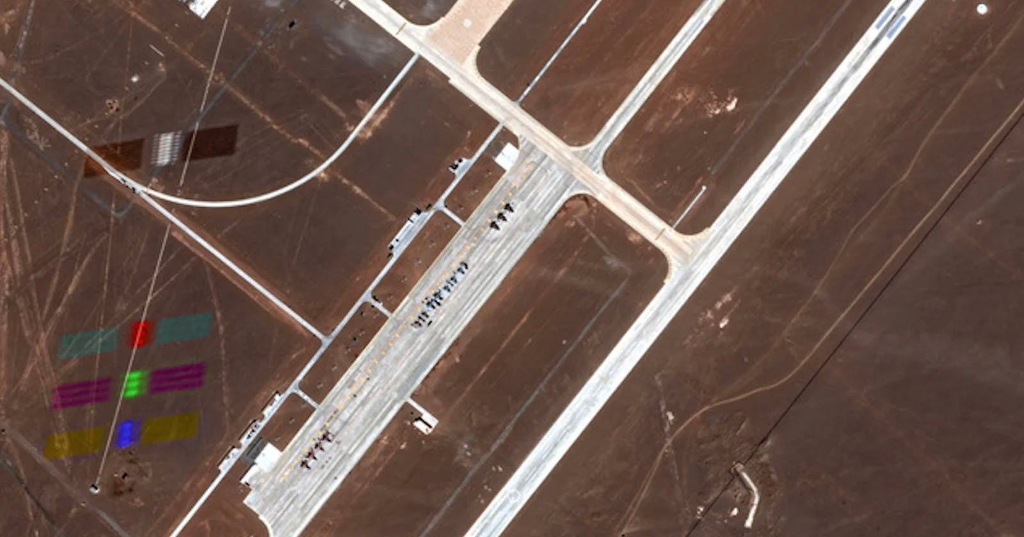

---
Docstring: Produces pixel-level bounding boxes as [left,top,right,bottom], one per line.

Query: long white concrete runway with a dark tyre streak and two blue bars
[464,0,925,537]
